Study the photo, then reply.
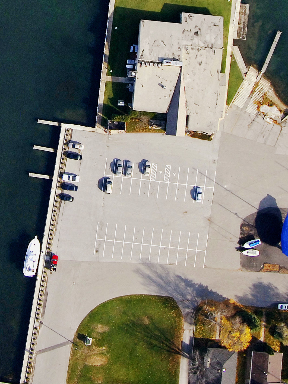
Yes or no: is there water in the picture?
Yes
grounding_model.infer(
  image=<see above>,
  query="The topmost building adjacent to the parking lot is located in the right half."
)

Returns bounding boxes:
[130,12,227,136]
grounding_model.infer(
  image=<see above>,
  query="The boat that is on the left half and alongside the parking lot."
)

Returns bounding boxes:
[23,237,39,279]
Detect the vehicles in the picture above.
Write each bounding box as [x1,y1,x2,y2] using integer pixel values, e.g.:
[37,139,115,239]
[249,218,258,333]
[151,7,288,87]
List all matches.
[67,152,83,161]
[107,179,113,194]
[68,143,85,150]
[144,161,152,177]
[196,187,203,203]
[59,194,75,202]
[62,174,81,182]
[116,161,124,177]
[61,184,78,191]
[126,162,133,178]
[50,255,58,272]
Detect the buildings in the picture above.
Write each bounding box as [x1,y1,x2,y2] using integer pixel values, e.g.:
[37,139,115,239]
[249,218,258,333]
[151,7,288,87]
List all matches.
[203,348,238,384]
[248,352,283,384]
[130,12,227,136]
